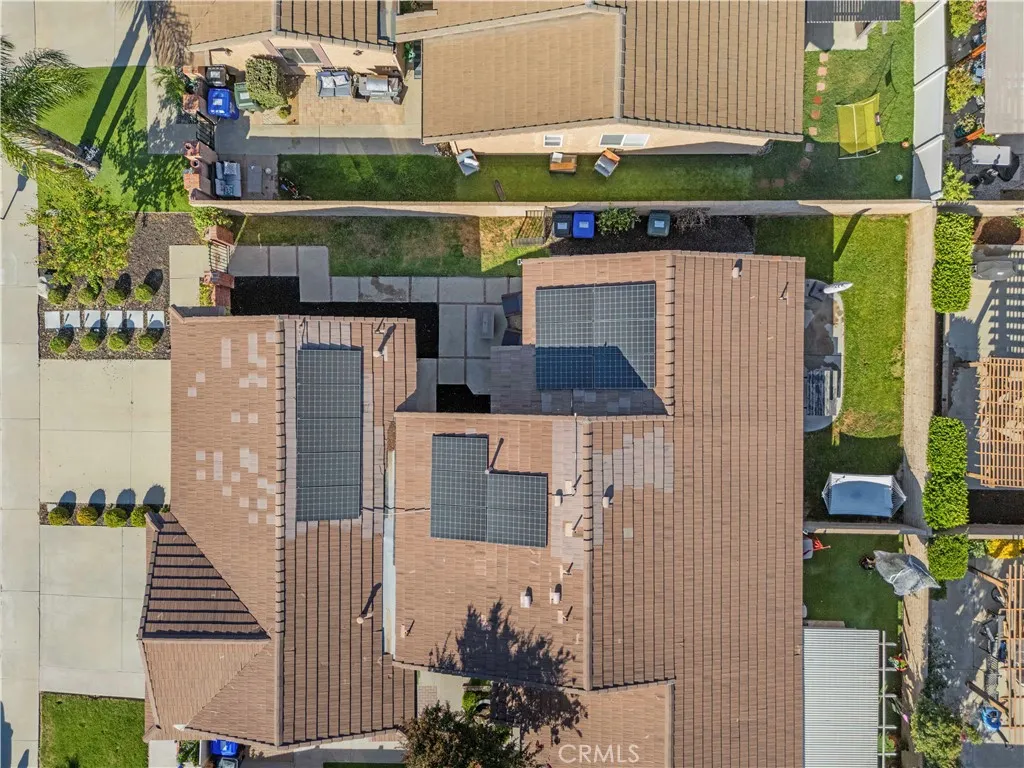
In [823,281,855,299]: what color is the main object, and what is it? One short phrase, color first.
white umbrella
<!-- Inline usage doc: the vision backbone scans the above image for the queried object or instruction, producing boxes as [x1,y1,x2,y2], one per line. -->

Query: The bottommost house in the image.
[136,249,806,768]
